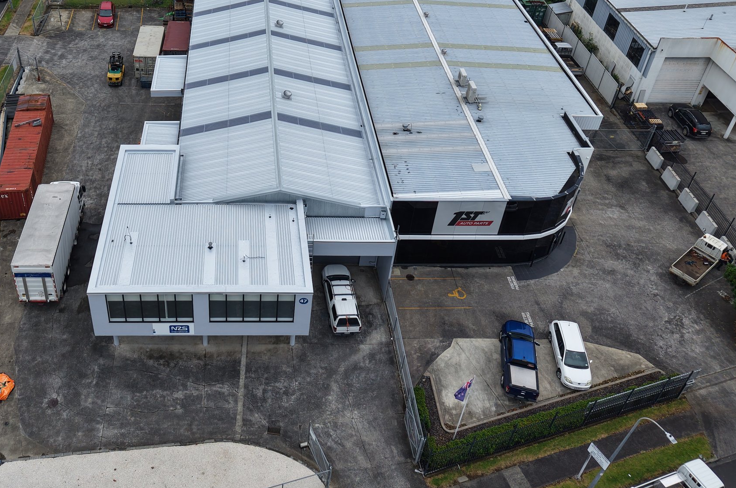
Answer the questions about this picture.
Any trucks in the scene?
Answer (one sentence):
Yes, a truck can be made out from above.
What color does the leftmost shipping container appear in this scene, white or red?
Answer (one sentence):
From above, the leftmost shipping container appears red.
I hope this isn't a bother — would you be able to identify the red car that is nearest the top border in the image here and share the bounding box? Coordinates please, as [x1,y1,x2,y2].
[96,0,115,24]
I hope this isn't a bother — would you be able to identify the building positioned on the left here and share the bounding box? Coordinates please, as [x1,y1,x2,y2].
[85,0,399,346]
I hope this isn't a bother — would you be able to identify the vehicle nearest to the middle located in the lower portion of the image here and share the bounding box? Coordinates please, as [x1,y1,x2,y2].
[325,262,363,331]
